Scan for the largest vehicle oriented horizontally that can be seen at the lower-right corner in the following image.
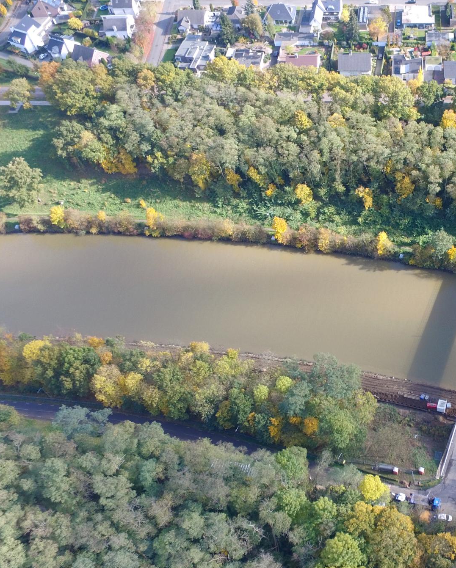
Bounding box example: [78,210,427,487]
[408,494,442,507]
